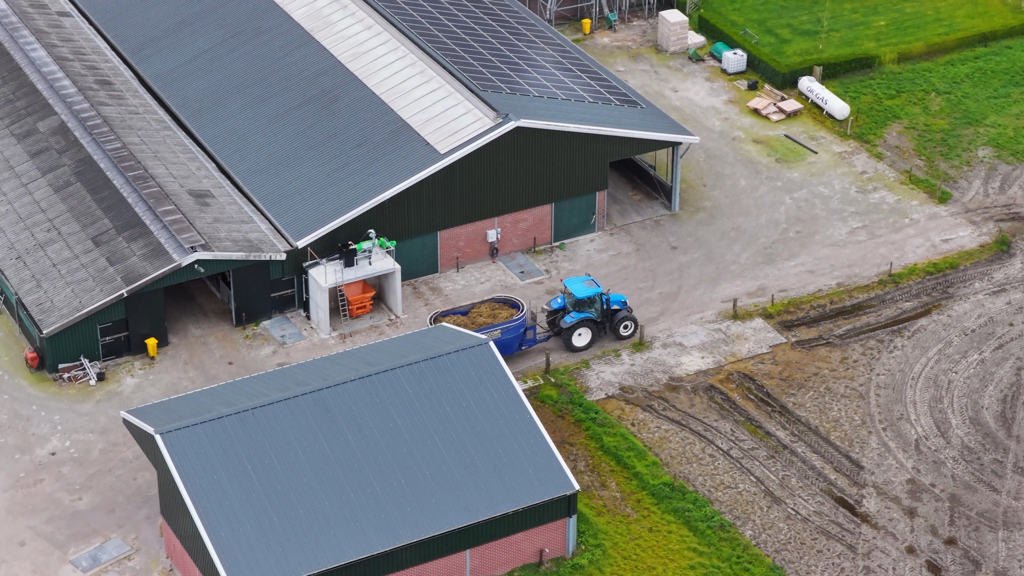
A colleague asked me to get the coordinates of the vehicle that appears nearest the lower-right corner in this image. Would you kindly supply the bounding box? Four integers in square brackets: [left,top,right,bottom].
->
[539,276,638,350]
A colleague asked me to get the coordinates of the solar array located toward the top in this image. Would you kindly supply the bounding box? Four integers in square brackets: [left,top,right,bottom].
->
[377,0,646,108]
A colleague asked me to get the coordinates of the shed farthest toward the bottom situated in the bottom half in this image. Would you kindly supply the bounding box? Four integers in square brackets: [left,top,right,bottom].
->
[120,322,581,576]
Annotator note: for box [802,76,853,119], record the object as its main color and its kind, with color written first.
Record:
white storage tank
